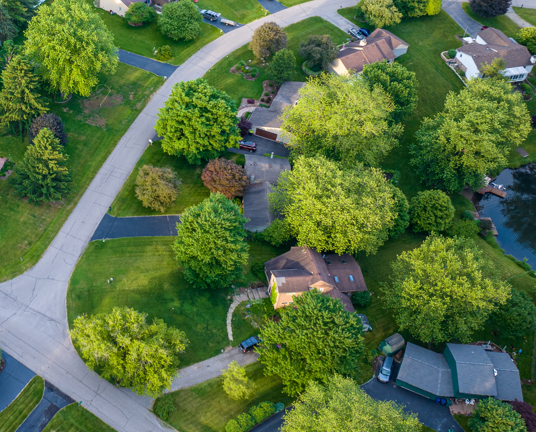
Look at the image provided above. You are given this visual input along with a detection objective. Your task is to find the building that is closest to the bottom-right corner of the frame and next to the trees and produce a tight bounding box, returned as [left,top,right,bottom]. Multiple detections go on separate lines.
[393,338,523,416]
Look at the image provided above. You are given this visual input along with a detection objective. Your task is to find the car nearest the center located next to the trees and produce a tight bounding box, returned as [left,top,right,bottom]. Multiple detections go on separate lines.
[237,139,260,152]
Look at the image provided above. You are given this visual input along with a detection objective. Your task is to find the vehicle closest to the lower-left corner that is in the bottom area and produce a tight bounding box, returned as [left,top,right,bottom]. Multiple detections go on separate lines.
[234,333,263,354]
